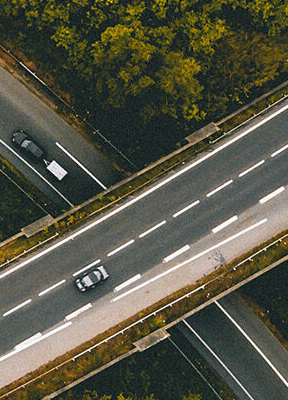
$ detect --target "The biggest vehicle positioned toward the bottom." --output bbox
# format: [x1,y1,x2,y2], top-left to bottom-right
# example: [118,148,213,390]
[73,263,108,291]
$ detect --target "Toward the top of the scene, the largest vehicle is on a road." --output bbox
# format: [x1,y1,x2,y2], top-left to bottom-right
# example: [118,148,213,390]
[10,129,44,161]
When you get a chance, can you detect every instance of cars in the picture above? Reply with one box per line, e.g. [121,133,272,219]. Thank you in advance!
[73,263,108,291]
[10,129,44,161]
